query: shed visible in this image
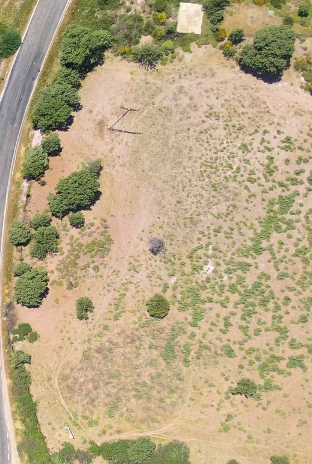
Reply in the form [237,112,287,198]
[171,2,203,37]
